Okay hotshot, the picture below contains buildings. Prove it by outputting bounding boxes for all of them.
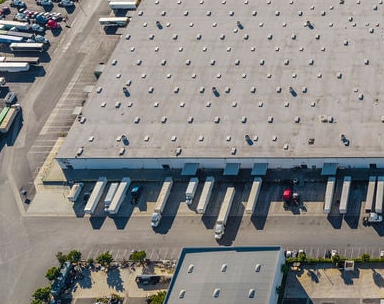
[41,0,384,184]
[164,247,287,304]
